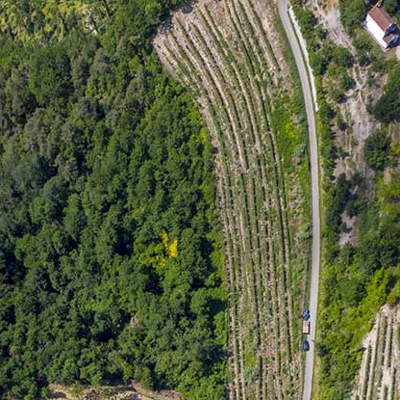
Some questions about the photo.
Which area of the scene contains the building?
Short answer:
top right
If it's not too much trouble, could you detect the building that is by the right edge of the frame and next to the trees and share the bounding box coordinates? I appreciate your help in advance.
[364,1,397,44]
